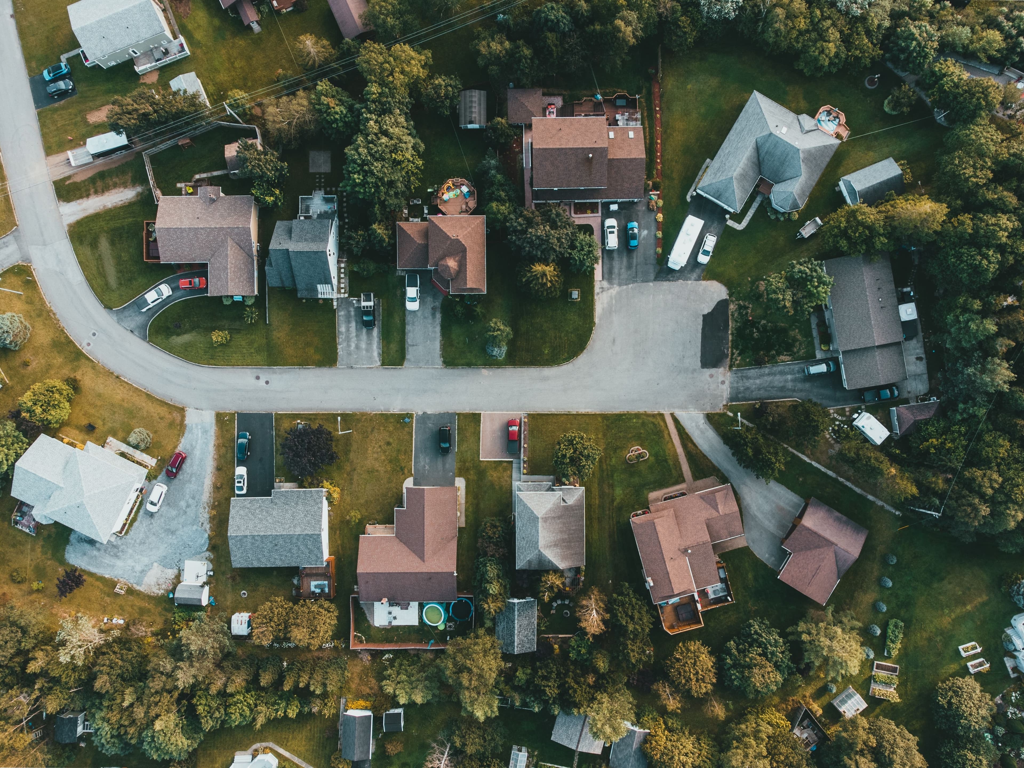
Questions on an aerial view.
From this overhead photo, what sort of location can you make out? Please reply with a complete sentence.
It's a residential area.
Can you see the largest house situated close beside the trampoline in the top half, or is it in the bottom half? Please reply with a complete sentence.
The largest house situated close beside the trampoline sits in the bottom half of the picture.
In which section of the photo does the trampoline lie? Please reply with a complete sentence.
The trampoline appears toward the bottom of the photo.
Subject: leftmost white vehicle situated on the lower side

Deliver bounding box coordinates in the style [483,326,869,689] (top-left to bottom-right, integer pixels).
[145,482,170,513]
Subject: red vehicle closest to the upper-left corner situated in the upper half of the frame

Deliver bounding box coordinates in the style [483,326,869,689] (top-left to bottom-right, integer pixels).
[178,275,208,290]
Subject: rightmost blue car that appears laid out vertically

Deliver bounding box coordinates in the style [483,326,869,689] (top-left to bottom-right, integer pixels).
[626,221,640,250]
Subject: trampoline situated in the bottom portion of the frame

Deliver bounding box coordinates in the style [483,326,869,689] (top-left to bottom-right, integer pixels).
[450,597,473,621]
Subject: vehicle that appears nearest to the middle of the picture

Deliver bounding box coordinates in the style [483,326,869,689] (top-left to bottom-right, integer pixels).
[506,419,521,454]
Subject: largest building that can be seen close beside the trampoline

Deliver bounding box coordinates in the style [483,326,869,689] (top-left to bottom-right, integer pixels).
[356,485,458,606]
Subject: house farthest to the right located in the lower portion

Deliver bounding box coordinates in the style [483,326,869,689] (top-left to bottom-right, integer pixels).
[995,603,1024,648]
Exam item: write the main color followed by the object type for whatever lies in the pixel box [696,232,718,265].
white car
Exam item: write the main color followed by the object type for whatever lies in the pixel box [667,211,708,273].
white camper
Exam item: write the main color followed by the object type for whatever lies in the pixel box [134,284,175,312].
white vehicle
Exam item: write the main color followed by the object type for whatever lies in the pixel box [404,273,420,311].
white vehicle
